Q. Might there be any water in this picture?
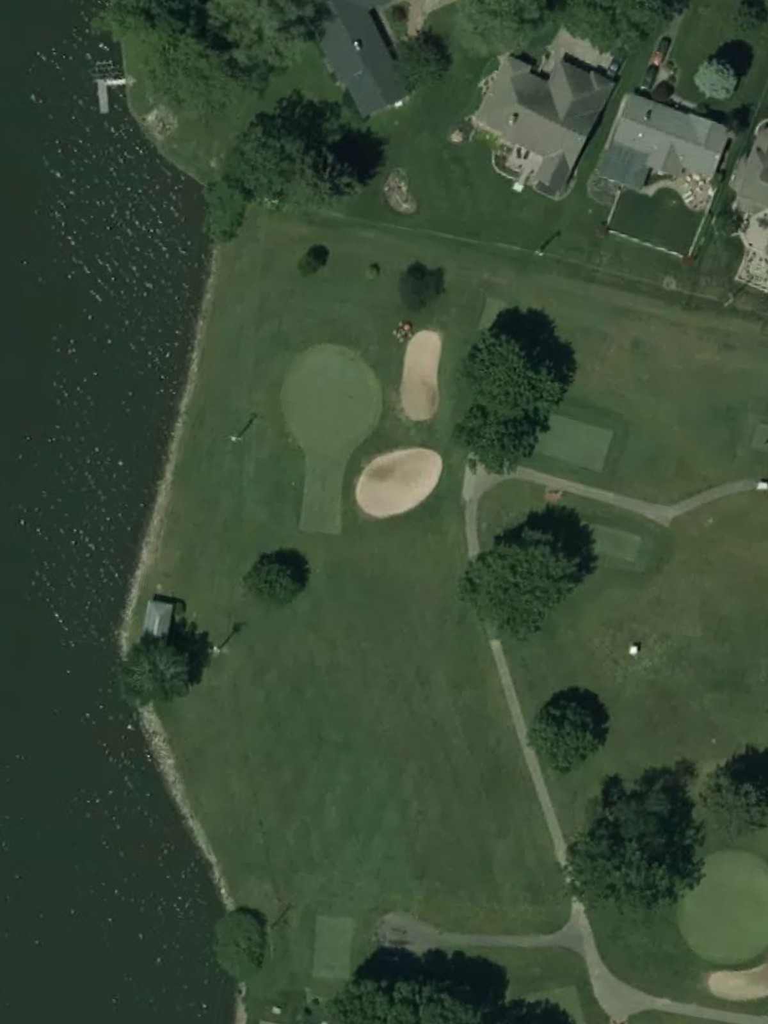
Yes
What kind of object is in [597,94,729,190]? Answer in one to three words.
house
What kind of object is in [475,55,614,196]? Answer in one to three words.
house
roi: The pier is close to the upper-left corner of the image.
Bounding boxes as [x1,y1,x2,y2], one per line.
[97,78,136,113]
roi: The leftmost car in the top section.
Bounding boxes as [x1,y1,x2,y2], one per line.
[604,53,621,80]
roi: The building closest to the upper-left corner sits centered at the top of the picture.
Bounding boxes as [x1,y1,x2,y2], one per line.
[323,0,408,118]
